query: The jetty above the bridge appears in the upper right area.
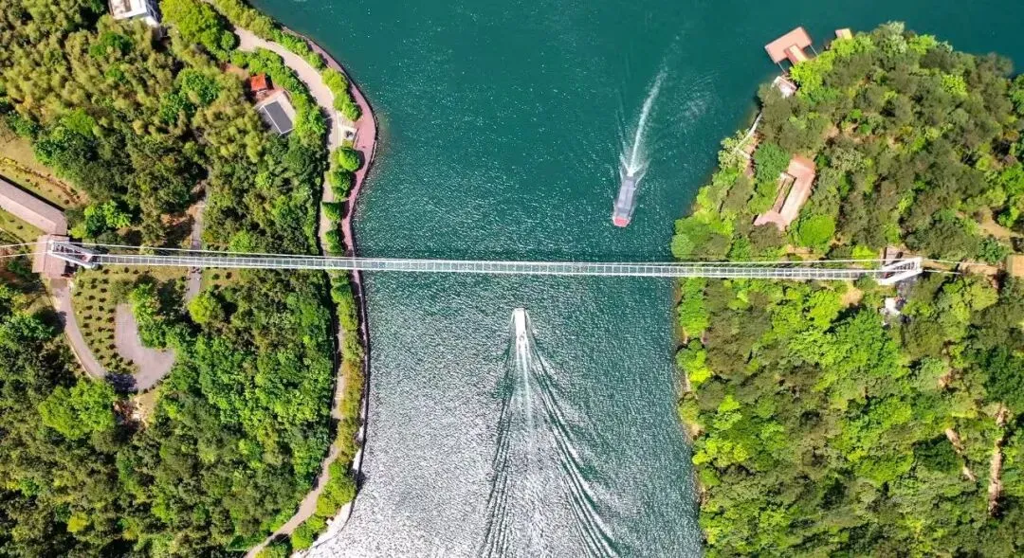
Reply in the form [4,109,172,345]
[764,28,820,73]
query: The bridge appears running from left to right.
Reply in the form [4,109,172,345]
[0,240,991,288]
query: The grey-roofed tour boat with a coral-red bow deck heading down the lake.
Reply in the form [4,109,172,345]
[616,176,636,227]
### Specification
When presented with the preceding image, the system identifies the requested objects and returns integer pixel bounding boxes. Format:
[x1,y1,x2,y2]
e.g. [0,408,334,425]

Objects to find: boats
[516,308,525,333]
[616,176,636,227]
